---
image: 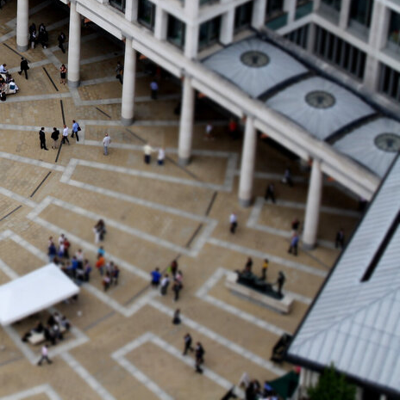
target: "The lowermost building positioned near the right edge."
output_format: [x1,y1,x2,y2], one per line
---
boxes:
[285,157,400,400]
